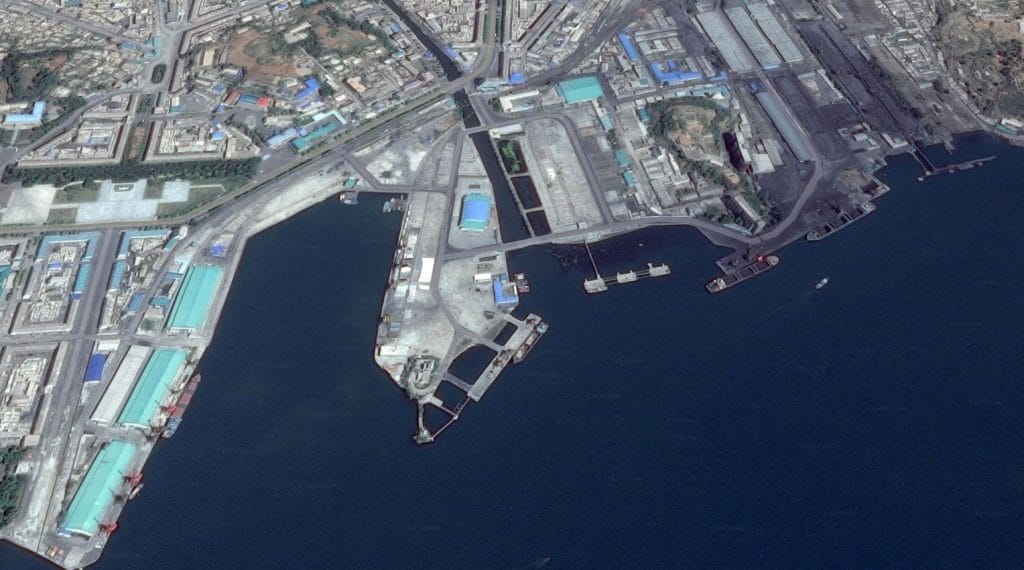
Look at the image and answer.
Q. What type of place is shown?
port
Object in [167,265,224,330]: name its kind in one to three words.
building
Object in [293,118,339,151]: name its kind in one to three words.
building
